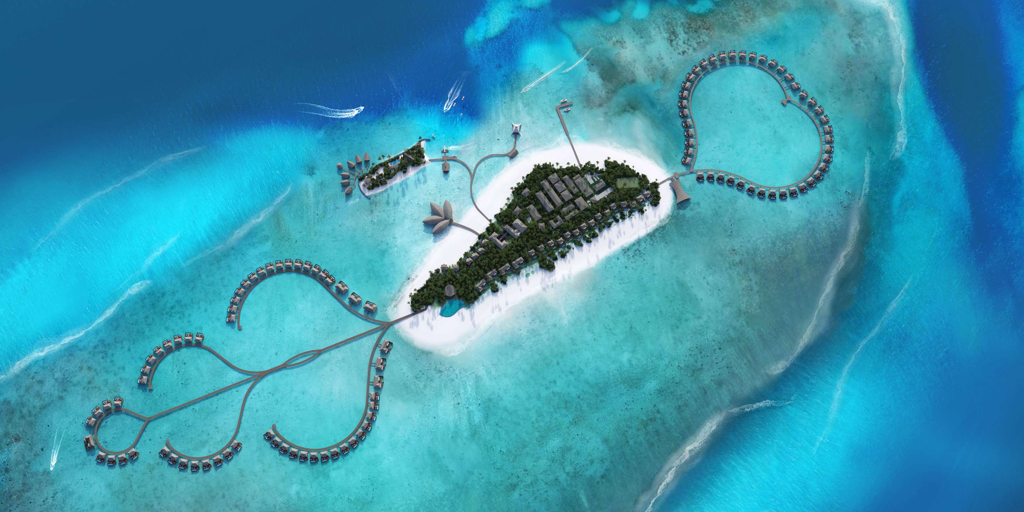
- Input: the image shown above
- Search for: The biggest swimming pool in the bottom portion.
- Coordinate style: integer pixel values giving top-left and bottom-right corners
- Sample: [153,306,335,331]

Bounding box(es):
[439,299,467,317]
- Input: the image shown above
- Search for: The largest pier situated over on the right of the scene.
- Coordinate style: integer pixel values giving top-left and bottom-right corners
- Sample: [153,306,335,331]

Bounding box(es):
[689,60,823,188]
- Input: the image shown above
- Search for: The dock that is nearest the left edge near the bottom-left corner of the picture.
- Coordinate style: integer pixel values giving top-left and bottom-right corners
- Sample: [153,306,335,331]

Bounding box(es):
[95,408,149,454]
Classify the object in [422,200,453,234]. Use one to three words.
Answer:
building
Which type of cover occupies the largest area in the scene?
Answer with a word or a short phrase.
water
